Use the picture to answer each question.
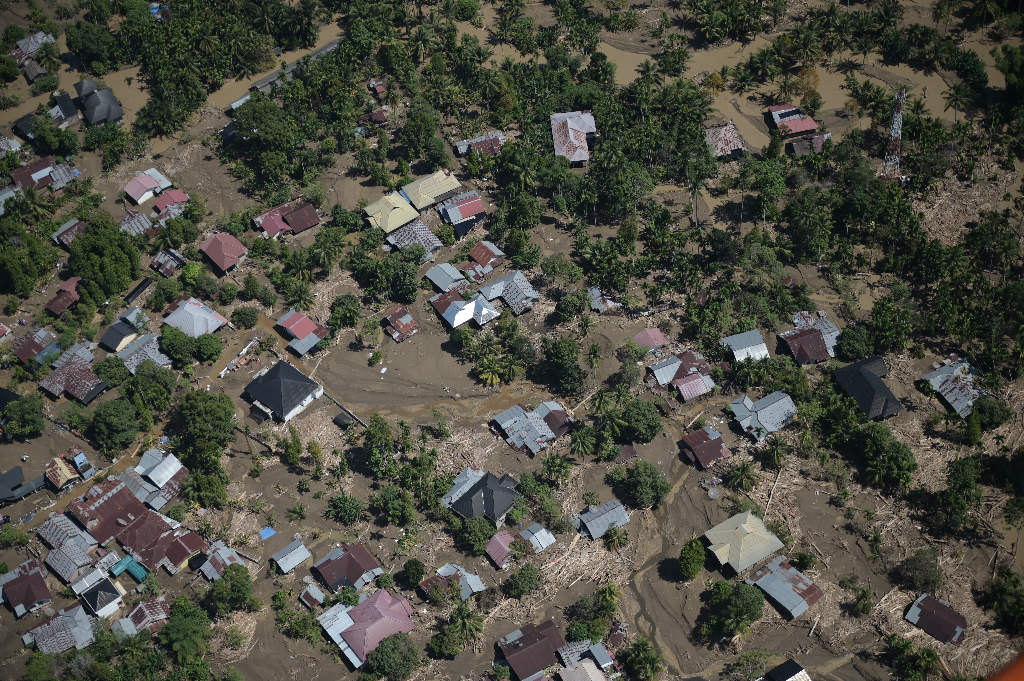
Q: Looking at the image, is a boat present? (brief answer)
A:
No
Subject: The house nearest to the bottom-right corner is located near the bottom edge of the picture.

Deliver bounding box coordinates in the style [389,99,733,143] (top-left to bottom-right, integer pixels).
[904,594,967,648]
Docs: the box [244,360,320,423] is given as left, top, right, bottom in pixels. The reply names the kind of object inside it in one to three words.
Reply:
house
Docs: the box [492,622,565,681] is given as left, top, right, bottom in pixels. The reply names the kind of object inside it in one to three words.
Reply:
house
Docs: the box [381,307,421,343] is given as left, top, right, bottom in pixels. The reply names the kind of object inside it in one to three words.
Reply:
shed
